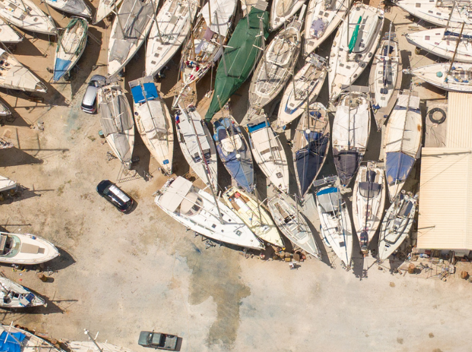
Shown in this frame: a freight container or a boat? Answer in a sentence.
It is a boat that can be seen here.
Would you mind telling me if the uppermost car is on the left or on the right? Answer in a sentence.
The uppermost car is on the left side of the image.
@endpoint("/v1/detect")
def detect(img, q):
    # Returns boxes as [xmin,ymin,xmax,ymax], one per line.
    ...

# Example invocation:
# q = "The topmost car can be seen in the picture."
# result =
[78,77,106,115]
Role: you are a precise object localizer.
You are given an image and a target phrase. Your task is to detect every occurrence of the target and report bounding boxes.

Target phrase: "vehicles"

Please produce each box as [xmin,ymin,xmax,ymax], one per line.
[140,328,183,352]
[94,178,136,218]
[78,77,106,115]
